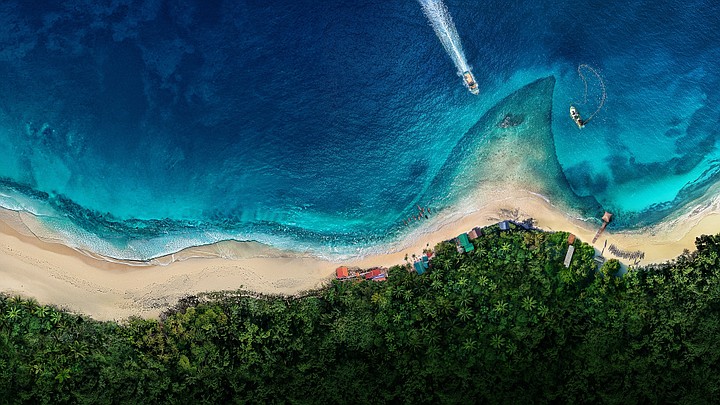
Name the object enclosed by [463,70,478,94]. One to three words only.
boat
